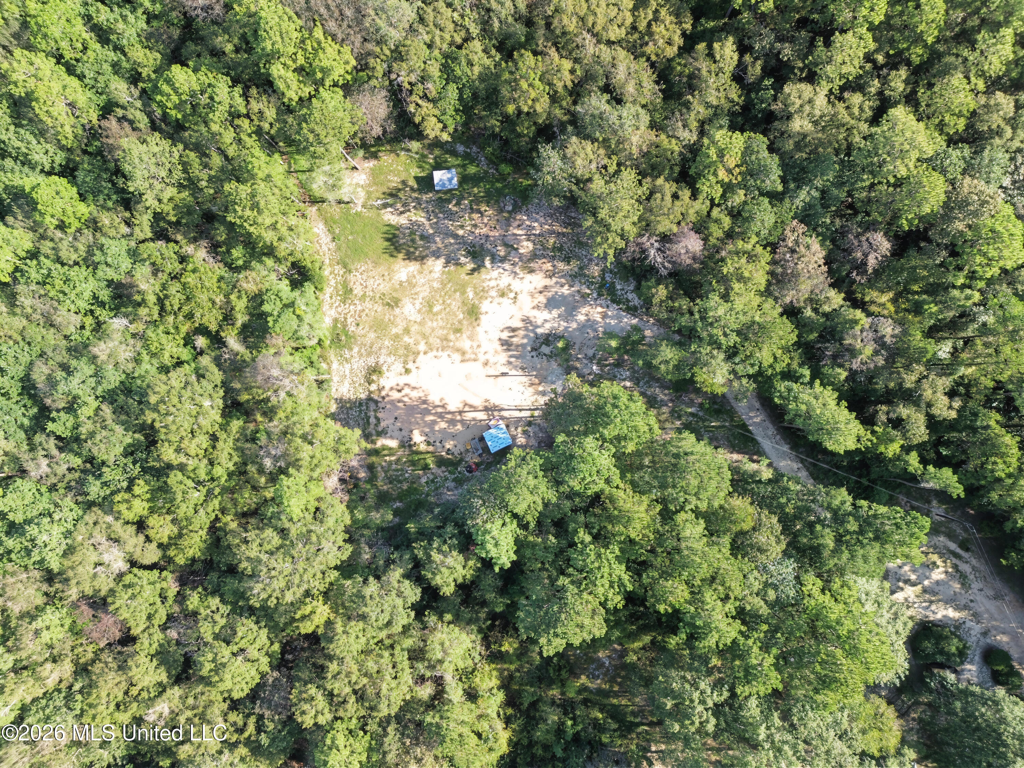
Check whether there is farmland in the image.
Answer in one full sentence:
No, the picture contains no farmland.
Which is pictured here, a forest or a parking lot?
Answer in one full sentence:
It's a forest.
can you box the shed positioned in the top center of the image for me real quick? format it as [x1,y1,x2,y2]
[434,169,458,193]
